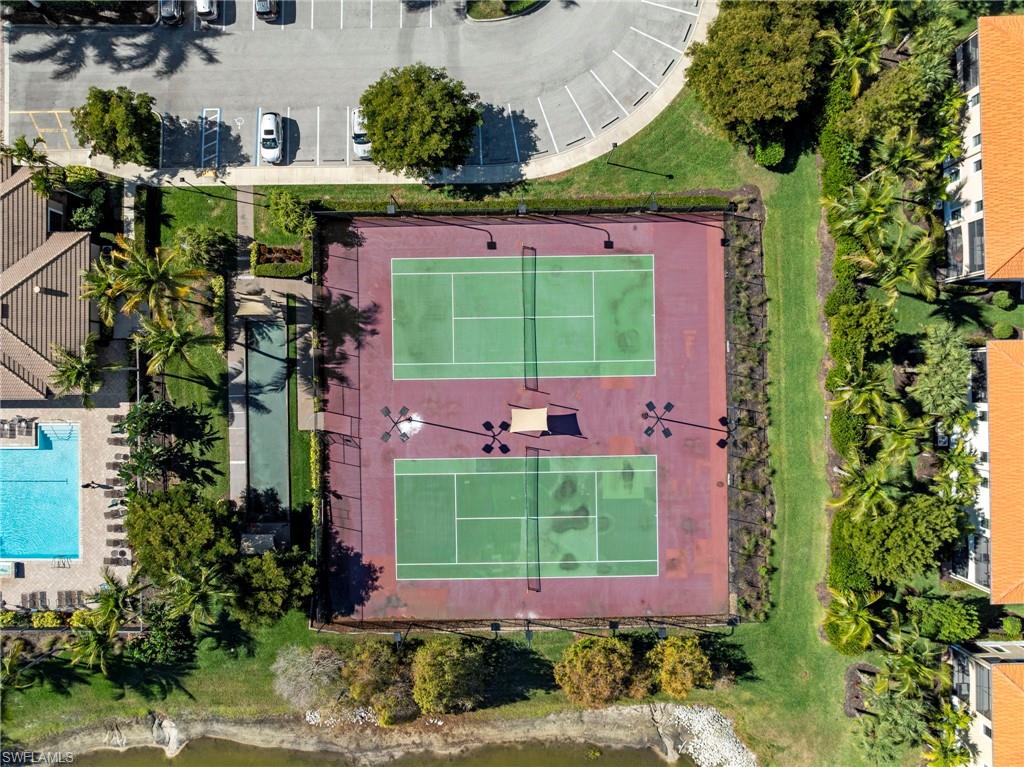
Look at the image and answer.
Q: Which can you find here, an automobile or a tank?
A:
automobile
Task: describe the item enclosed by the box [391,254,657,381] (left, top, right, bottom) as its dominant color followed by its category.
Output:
green tennis court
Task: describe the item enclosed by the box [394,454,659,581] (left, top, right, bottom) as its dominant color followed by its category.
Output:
green tennis court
